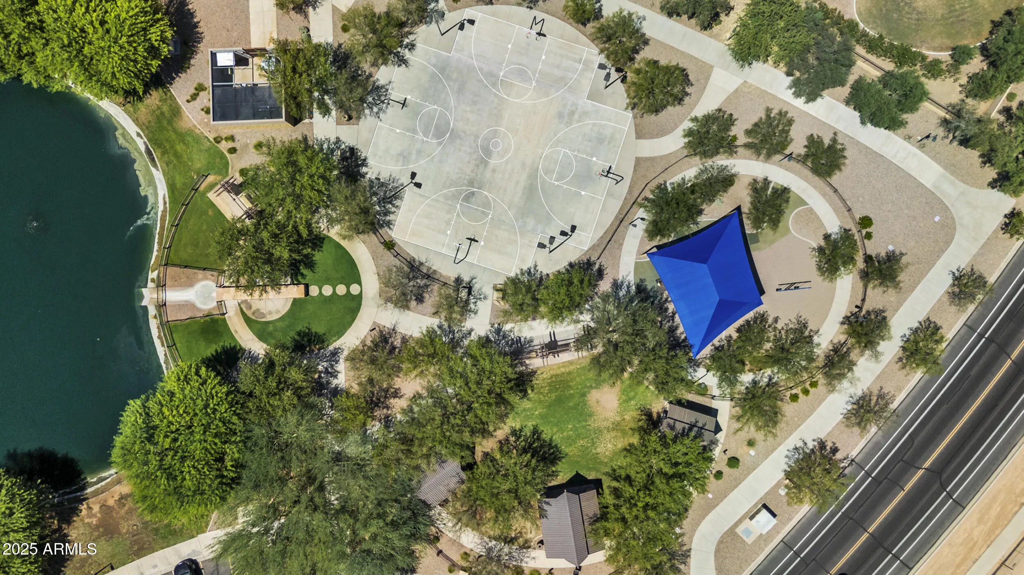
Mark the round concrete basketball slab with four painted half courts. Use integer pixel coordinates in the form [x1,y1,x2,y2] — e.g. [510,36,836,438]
[357,4,635,282]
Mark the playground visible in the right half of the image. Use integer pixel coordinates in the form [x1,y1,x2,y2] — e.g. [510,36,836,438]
[634,175,837,377]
